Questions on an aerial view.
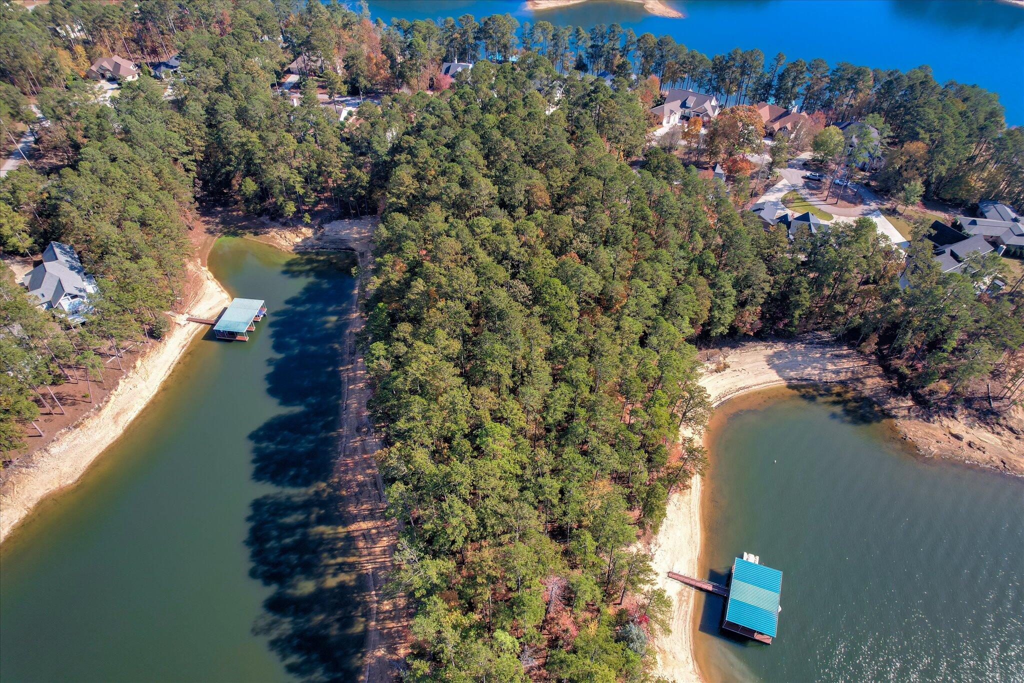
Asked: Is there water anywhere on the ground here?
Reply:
Yes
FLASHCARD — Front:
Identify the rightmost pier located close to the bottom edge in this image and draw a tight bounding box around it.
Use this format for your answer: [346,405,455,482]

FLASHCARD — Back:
[718,556,783,651]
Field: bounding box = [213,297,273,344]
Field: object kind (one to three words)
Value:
pier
